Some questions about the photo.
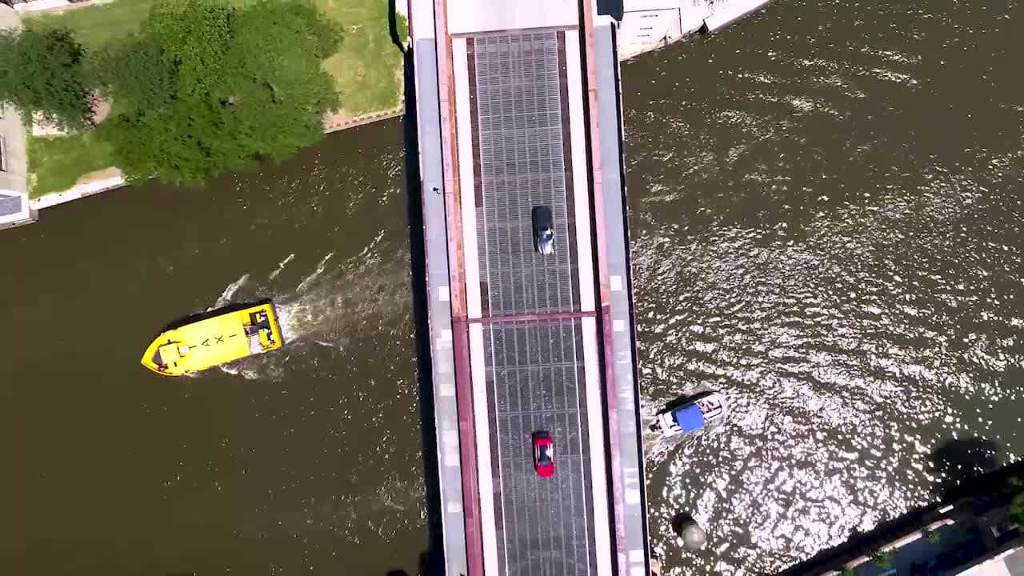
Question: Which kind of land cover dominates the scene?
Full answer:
What you mostly see from above here is water.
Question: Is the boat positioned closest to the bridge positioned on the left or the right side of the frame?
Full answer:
The boat positioned closest to the bridge appears in the right half of the scene.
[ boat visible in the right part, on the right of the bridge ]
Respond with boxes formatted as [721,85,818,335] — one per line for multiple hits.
[656,395,725,434]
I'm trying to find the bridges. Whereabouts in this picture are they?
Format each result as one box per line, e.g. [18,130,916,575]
[409,0,653,576]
